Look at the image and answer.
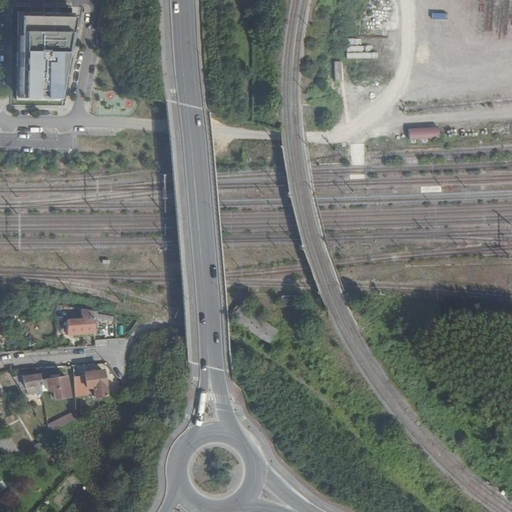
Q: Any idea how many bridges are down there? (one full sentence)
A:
In total, there are 2 bridges in the scene.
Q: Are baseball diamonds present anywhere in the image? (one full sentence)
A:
No, the scene contains no baseball diamond.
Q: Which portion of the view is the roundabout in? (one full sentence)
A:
The roundabout is in the bottom part of the image.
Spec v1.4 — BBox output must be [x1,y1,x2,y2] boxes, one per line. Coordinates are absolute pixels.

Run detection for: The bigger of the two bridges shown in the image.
[165,97,230,376]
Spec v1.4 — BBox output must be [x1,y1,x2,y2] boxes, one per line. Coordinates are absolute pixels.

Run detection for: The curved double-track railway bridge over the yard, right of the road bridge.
[280,127,347,308]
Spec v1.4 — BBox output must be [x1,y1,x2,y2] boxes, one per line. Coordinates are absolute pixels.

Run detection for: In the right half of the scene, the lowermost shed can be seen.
[410,126,441,139]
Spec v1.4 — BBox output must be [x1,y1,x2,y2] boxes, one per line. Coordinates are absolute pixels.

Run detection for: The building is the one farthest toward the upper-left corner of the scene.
[12,12,78,106]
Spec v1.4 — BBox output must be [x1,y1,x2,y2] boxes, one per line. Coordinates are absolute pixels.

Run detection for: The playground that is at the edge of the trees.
[95,90,136,116]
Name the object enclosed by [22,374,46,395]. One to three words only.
house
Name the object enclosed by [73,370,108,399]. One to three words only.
house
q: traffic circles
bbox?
[148,366,356,512]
